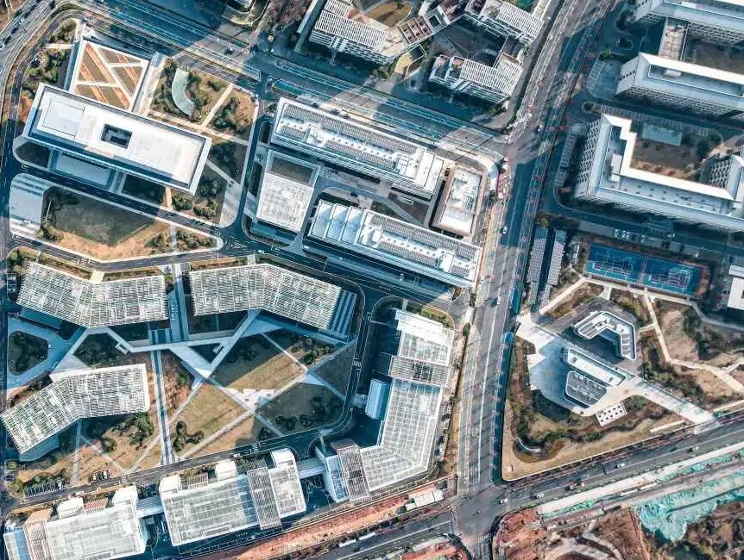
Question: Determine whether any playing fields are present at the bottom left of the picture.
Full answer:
No, there is no playing field at the bottom left of the picture.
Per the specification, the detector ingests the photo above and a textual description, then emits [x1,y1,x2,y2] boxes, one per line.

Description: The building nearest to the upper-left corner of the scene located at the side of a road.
[69,40,149,113]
